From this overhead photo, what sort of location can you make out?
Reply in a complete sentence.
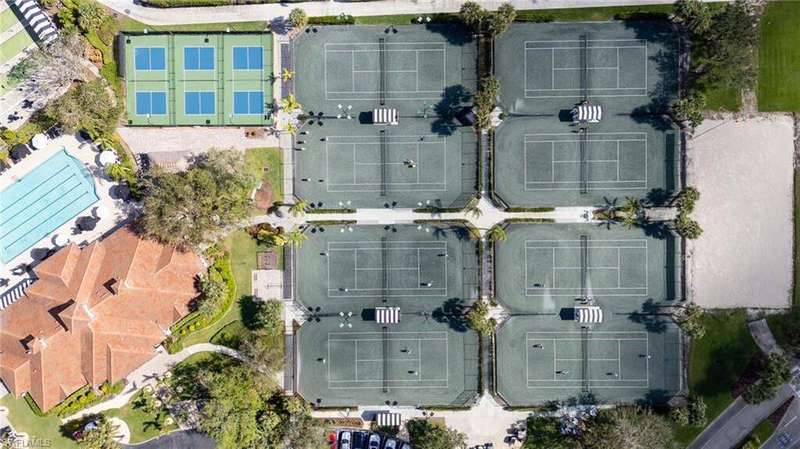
This looks like a sports ground.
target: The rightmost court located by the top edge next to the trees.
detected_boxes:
[495,22,681,113]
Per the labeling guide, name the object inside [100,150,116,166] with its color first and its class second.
white umbrella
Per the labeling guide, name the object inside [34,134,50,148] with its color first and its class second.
white umbrella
